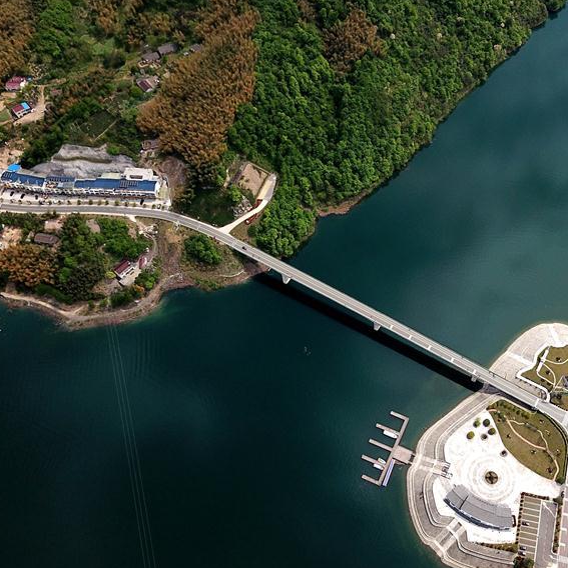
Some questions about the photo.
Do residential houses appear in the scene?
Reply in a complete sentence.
Yes, the photo shows a residential house.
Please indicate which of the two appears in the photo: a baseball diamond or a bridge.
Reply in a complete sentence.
Looking from above, you can make out a bridge.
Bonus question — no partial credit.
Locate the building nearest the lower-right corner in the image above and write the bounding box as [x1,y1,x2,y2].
[443,486,512,531]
